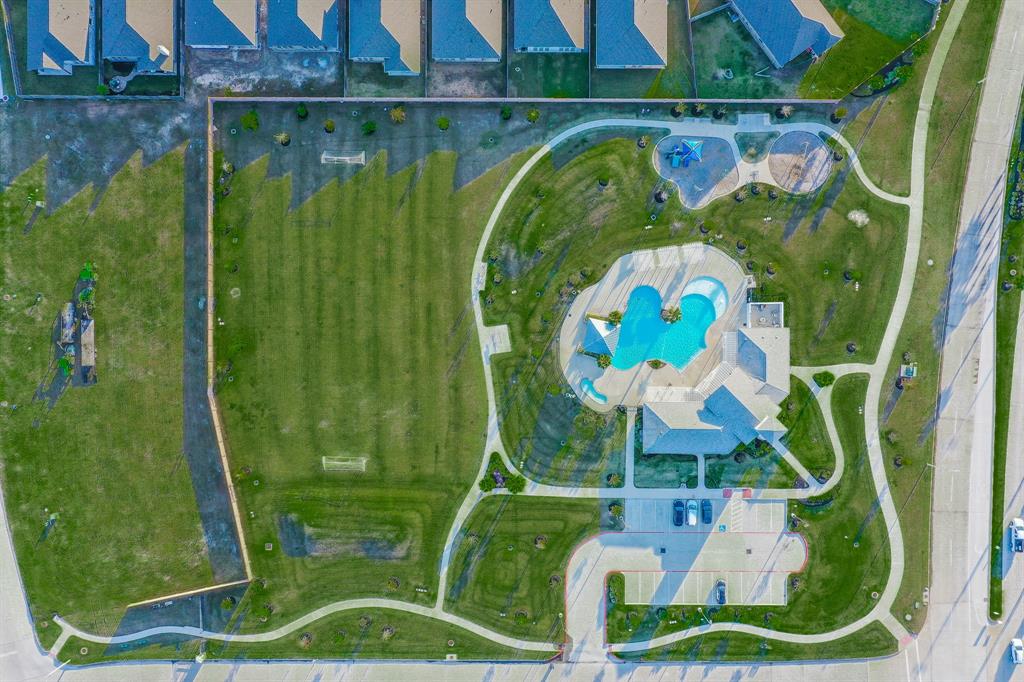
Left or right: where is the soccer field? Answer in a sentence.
You can find the soccer field on the left side of the picture.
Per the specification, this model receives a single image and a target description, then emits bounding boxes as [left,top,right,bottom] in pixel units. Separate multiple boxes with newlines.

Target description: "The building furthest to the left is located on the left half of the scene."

[25,0,97,76]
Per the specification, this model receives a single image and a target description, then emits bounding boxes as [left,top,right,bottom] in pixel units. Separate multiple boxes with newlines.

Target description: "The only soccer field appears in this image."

[222,151,469,470]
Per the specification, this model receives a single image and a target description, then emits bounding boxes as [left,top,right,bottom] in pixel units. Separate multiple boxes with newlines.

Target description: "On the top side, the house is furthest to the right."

[724,0,844,72]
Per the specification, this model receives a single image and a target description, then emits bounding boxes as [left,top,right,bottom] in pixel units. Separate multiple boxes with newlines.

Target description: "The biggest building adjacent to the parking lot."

[643,328,789,454]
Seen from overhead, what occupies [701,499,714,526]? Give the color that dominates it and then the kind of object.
blue vehicle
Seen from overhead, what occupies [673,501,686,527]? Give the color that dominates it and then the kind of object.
blue vehicle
